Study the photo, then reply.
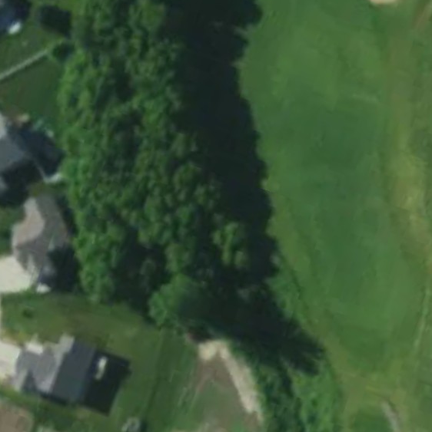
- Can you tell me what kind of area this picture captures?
golf course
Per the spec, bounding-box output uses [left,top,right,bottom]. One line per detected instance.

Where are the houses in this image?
[0,115,25,197]
[10,332,97,408]
[6,193,70,282]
